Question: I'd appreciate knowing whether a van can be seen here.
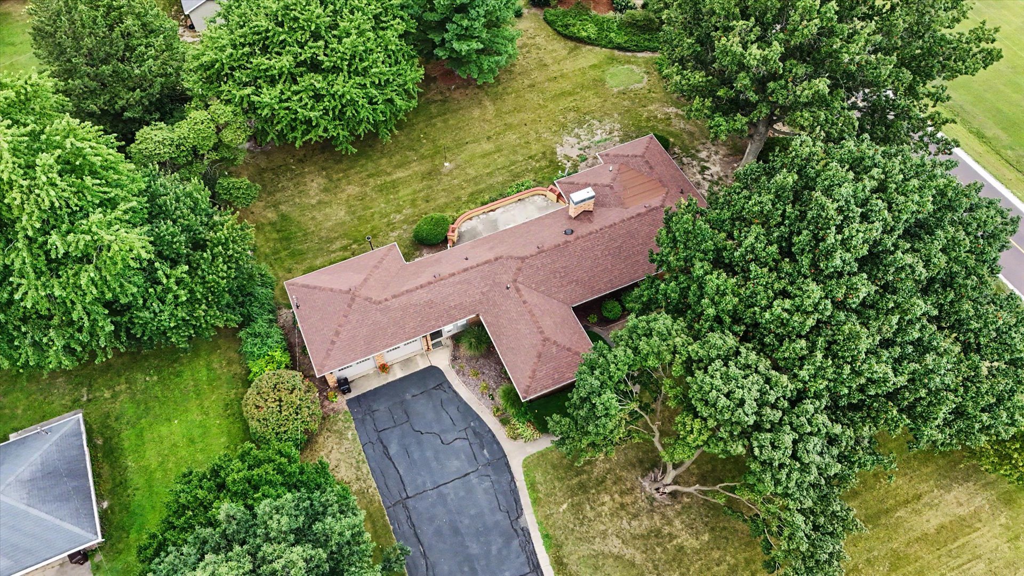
No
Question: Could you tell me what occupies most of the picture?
trees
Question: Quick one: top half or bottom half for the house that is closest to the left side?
bottom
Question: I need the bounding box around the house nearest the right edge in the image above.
[284,133,735,405]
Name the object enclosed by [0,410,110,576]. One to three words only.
house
